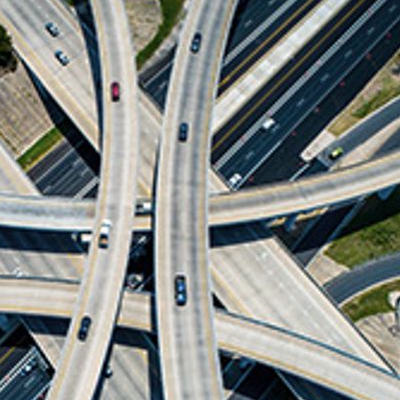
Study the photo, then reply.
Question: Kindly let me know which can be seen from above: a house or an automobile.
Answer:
automobile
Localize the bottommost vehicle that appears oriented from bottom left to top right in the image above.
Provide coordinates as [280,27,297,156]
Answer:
[18,358,37,377]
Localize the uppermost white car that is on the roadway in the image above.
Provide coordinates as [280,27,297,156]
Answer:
[261,117,276,132]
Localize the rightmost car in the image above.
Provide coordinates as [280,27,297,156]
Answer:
[329,147,343,159]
